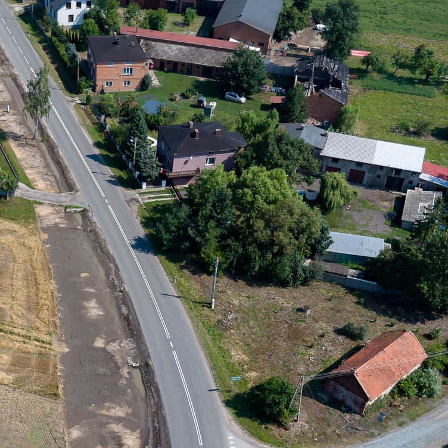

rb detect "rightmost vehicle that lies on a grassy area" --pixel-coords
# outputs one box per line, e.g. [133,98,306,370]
[223,90,247,104]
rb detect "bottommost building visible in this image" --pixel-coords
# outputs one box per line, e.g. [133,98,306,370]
[328,330,431,416]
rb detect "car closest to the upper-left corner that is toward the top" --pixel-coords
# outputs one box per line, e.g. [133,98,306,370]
[196,93,208,108]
